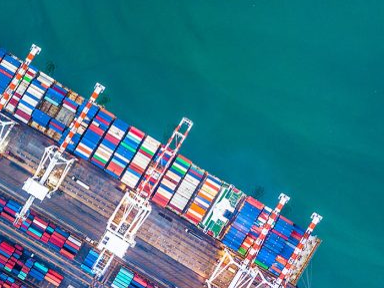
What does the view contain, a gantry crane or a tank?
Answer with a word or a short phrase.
gantry crane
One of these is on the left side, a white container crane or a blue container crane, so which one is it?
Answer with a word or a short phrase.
white container crane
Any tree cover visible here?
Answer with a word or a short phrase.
No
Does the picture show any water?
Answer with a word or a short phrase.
Yes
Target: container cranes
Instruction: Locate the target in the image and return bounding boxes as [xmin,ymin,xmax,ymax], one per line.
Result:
[201,192,290,288]
[15,81,106,225]
[0,42,40,156]
[92,118,193,273]
[245,212,324,288]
